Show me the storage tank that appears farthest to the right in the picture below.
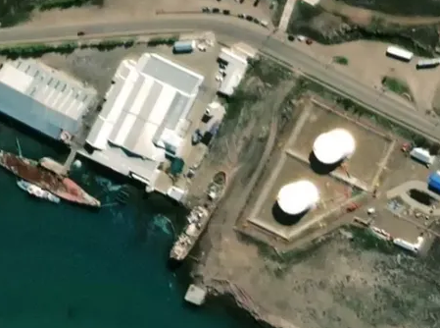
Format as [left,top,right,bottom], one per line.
[314,129,355,165]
